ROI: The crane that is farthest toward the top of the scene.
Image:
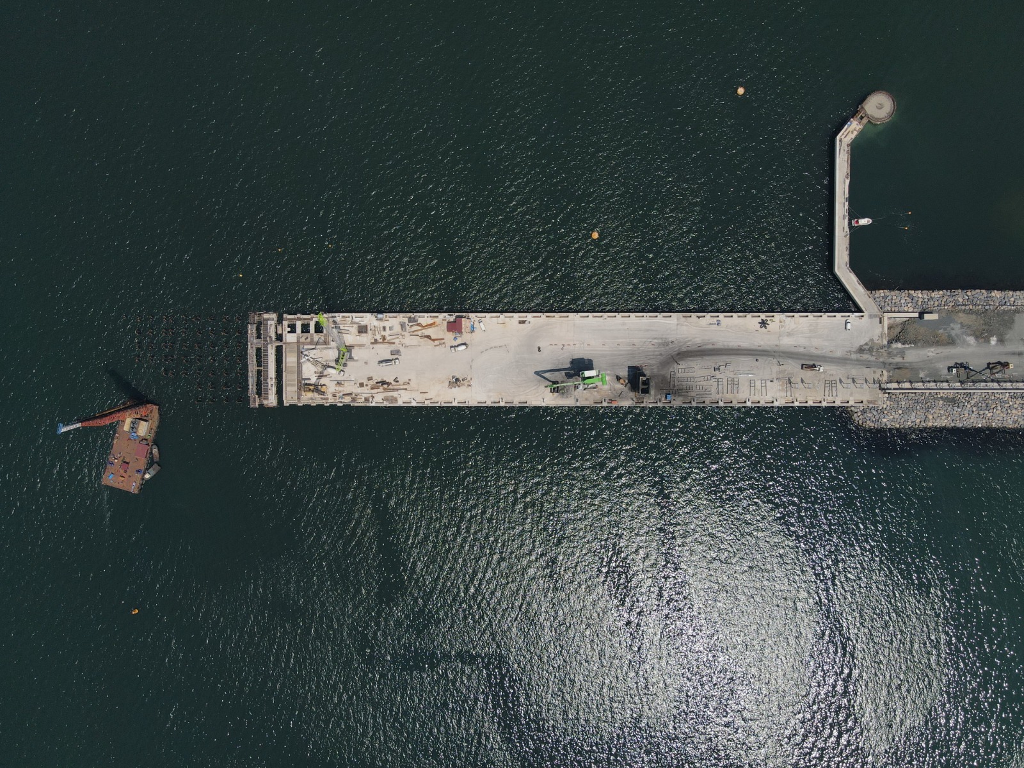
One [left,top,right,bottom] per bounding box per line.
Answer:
[320,313,351,372]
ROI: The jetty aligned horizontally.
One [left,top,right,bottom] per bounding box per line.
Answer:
[282,313,883,407]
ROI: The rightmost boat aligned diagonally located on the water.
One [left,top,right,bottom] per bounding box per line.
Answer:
[145,463,162,480]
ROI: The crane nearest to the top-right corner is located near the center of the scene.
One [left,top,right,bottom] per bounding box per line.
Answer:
[542,369,607,392]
